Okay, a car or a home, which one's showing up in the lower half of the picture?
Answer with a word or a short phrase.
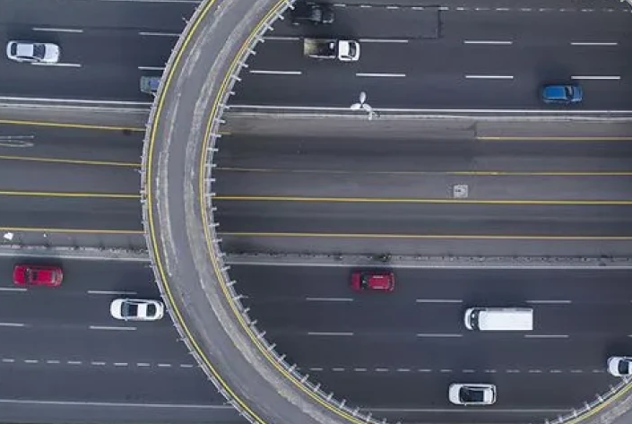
car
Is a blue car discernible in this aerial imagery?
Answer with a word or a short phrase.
Yes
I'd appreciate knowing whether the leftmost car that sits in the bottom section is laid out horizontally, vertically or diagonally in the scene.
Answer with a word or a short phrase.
horizontally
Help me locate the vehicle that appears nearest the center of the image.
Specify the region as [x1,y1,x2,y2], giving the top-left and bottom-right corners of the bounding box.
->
[351,269,396,294]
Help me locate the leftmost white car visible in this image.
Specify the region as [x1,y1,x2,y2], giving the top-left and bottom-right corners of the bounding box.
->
[6,39,62,64]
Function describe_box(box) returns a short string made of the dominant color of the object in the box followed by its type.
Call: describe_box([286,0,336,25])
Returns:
black car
